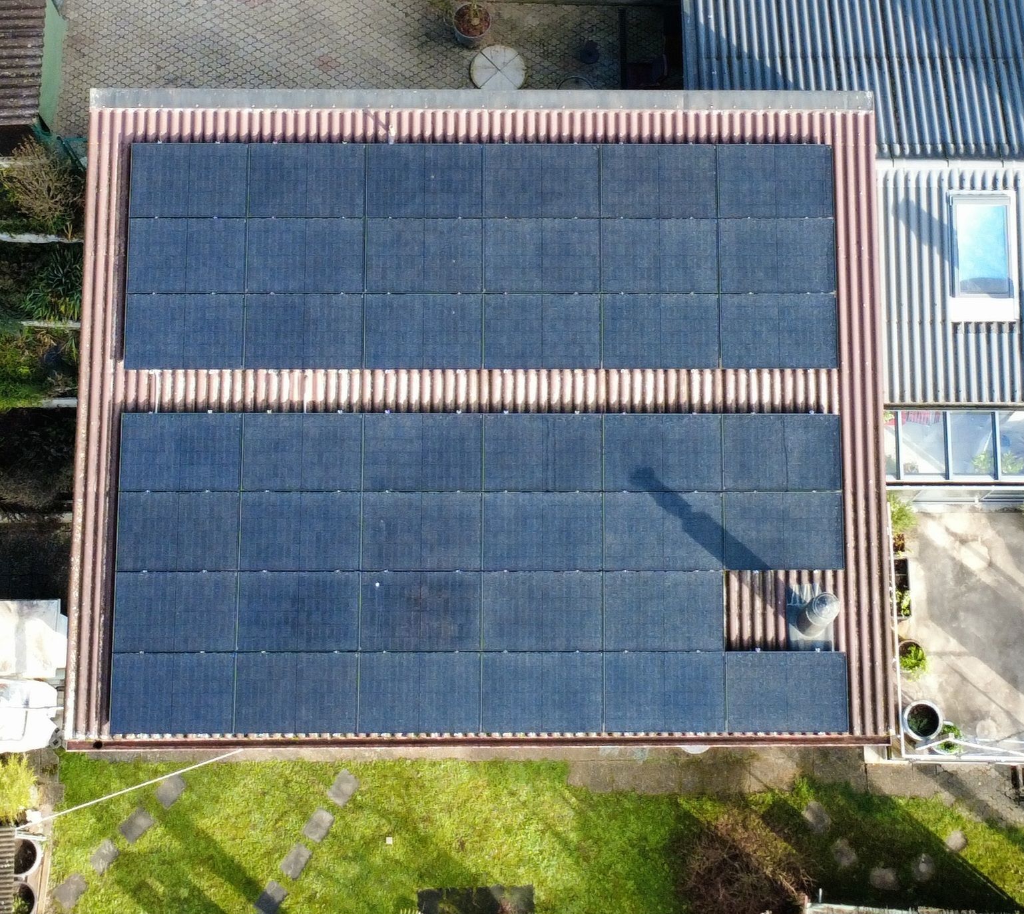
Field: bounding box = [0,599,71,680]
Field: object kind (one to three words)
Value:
greenhouse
